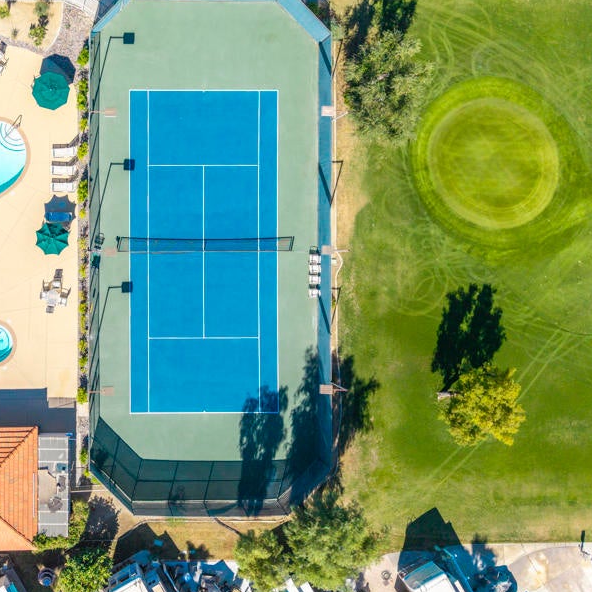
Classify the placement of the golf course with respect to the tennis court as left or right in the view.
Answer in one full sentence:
You can see the golf course positioned to the right of the tennis court.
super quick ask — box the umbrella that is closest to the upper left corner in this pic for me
[34,72,72,110]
